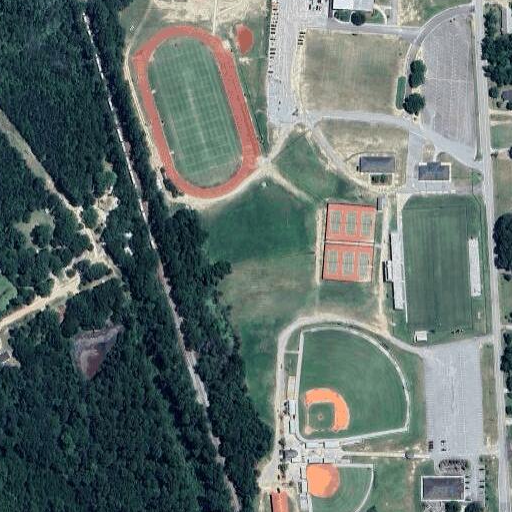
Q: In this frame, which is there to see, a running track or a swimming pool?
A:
running track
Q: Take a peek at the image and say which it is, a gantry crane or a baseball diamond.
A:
baseball diamond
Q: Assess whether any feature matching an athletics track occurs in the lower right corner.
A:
No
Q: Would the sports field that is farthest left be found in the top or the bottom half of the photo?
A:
top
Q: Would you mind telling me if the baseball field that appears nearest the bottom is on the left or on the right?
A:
right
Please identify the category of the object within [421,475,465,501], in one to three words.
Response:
building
